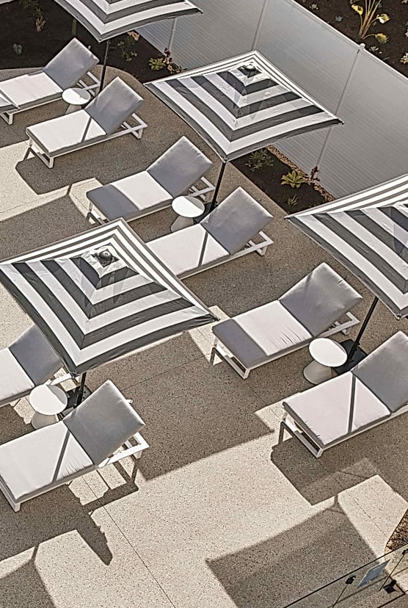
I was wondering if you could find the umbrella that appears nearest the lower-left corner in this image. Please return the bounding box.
[0,216,221,418]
